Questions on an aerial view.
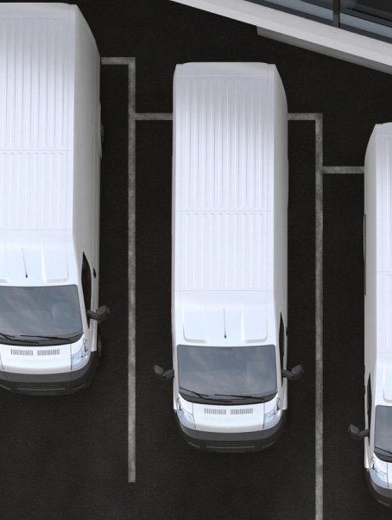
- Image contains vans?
Yes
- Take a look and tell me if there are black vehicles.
No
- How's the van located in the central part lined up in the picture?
vertically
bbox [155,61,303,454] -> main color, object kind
white van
